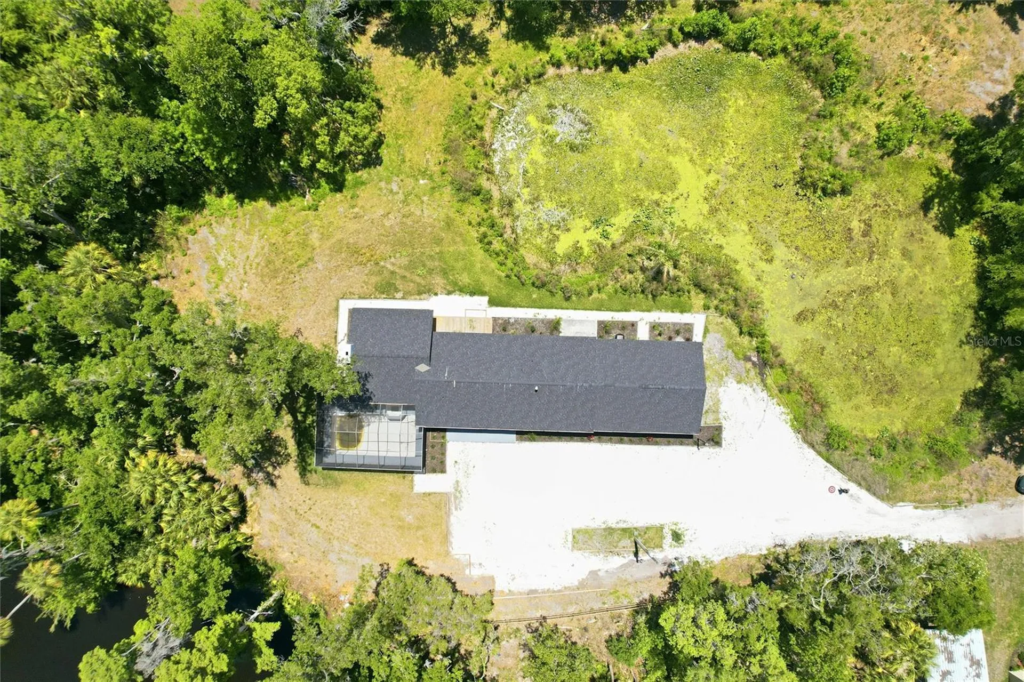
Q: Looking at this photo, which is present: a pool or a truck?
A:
pool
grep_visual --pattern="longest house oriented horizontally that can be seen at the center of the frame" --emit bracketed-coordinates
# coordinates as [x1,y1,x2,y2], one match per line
[344,307,706,434]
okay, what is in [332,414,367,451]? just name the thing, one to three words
swimming pool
